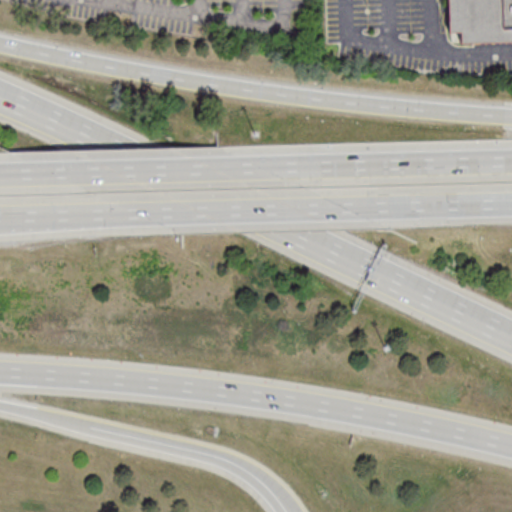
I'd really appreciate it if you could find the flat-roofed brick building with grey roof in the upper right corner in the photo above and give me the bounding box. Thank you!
[449,0,512,45]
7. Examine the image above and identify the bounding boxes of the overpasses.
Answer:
[8,131,392,250]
